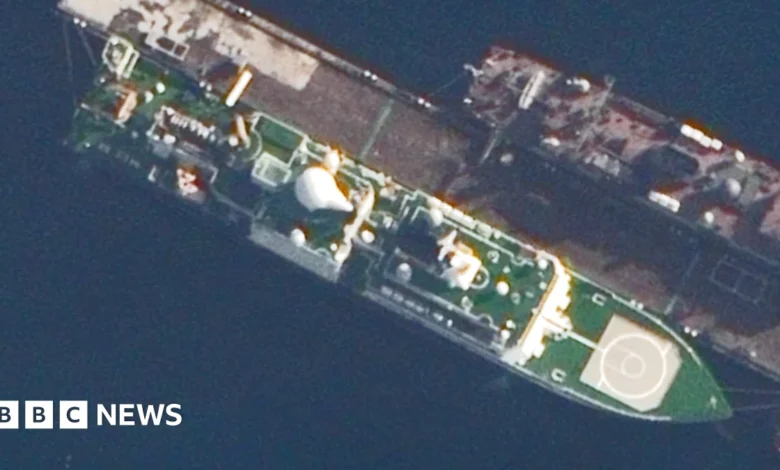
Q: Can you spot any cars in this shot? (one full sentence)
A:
No, the picture doesn't show any car.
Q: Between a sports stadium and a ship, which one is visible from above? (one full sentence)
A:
There is a ship in the scene.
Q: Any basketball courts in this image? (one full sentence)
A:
No, no basketball court is visible in the view.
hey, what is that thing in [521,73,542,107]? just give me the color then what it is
white boat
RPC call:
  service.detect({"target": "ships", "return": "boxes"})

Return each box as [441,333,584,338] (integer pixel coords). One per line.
[463,45,780,266]
[66,37,731,420]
